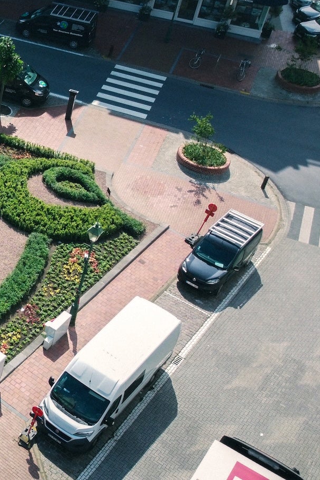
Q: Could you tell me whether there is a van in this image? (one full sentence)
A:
Yes, the image includes a van.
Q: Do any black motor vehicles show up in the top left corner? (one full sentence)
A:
Yes, looking in the top left corner, one can make out a black motor vehicle.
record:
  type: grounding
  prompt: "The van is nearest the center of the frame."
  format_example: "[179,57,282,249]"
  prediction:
[182,214,265,301]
